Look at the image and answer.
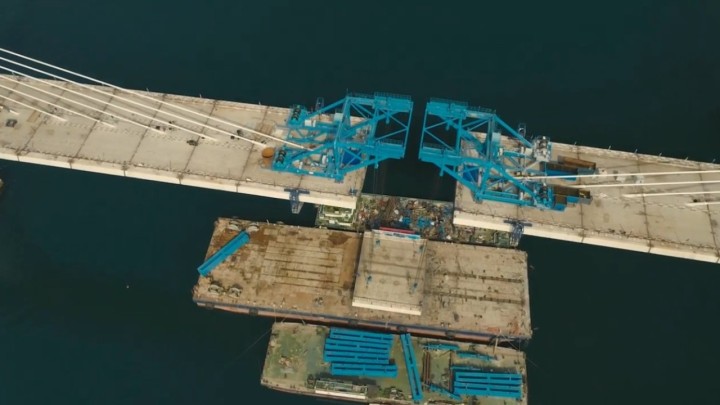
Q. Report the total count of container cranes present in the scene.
2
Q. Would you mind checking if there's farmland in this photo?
No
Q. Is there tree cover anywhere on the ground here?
No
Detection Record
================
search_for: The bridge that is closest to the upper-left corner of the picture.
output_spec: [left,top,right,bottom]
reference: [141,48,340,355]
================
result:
[0,48,378,212]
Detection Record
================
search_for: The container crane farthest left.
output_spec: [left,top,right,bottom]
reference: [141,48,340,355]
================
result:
[266,87,411,226]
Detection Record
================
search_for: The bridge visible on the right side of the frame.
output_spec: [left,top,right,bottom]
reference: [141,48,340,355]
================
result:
[451,131,720,266]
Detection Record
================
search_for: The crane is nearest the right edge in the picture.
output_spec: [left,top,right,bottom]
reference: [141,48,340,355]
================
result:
[420,94,560,235]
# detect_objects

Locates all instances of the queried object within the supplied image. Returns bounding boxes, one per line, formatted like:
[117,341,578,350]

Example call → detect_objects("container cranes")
[420,94,560,235]
[266,87,411,226]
